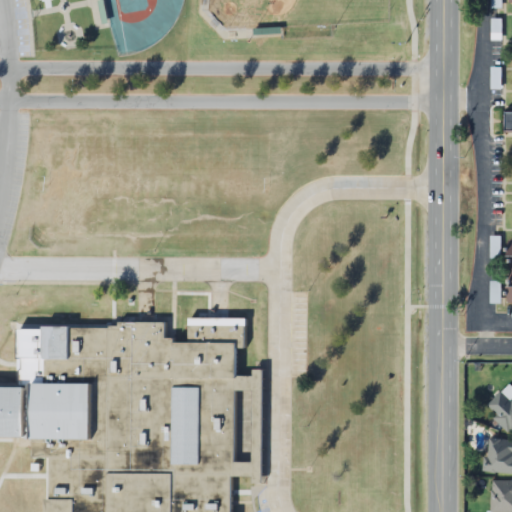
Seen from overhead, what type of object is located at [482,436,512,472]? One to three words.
house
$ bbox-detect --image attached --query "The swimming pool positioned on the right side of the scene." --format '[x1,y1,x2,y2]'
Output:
[468,420,495,454]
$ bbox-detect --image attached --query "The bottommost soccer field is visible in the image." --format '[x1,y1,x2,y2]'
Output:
[40,113,268,246]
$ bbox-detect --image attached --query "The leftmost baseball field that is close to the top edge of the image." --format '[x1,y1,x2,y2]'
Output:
[106,0,185,52]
